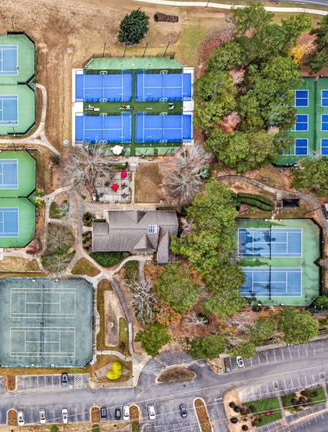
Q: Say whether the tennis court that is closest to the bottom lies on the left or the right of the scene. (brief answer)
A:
left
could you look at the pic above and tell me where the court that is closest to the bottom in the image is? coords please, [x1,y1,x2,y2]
[0,322,95,367]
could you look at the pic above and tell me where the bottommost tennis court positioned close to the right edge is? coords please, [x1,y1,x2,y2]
[231,262,319,306]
